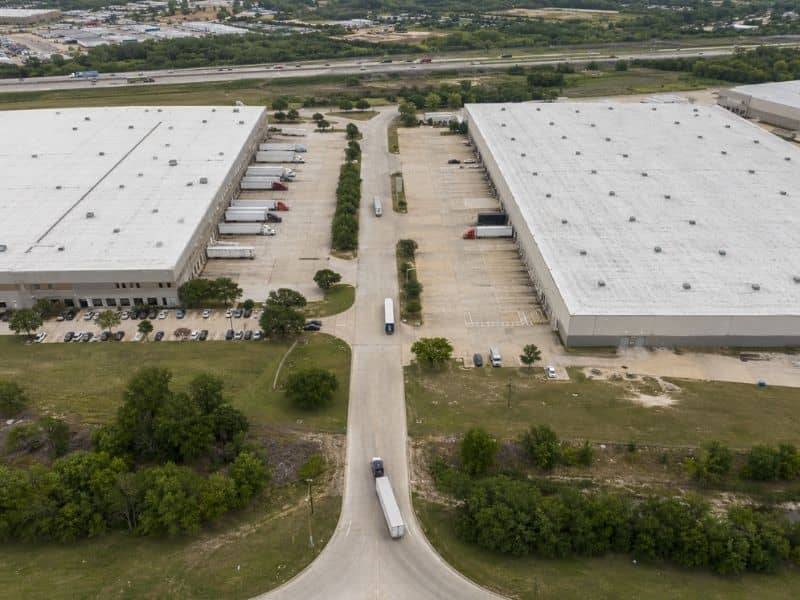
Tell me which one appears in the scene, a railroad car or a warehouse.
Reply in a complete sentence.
Of the two, only a warehouse appears.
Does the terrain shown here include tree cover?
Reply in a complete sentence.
Yes, the picture does contain tree cover.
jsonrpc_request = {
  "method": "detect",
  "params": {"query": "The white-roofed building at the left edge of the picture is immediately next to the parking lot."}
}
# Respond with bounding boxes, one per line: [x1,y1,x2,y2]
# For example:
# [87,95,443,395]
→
[0,105,269,310]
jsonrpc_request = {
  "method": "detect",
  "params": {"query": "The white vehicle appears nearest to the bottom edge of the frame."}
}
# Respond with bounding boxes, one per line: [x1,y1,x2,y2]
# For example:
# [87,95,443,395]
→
[375,462,404,539]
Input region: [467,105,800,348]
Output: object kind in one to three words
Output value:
warehouse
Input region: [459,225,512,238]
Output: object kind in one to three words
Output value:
vehicle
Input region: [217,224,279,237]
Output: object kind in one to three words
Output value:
vehicle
